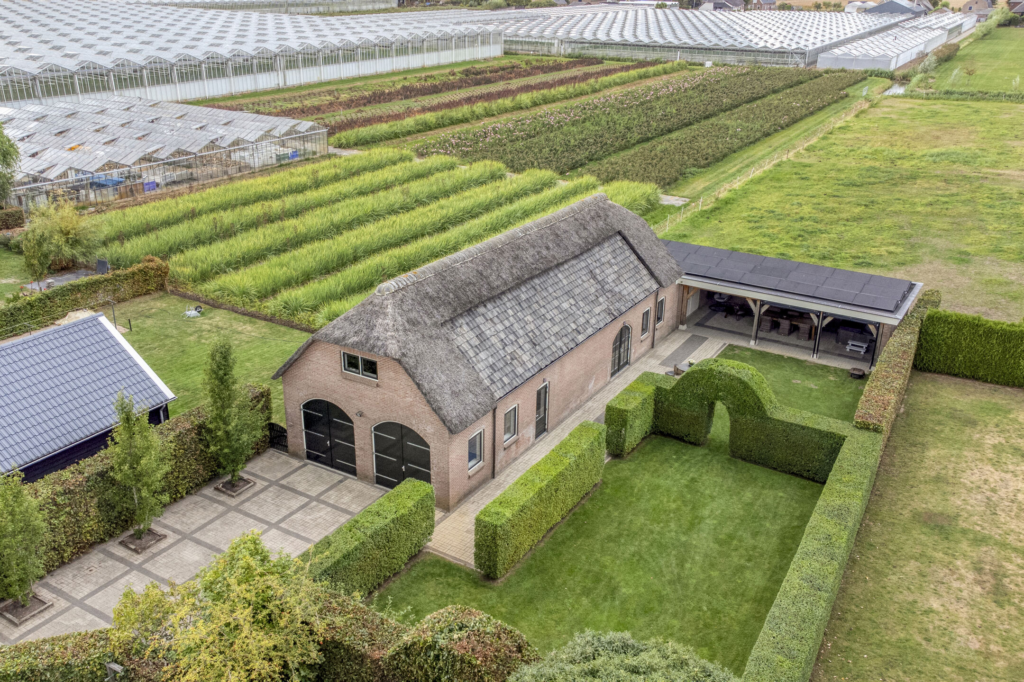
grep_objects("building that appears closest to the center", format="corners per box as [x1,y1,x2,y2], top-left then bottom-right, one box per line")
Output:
[267,189,712,513]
